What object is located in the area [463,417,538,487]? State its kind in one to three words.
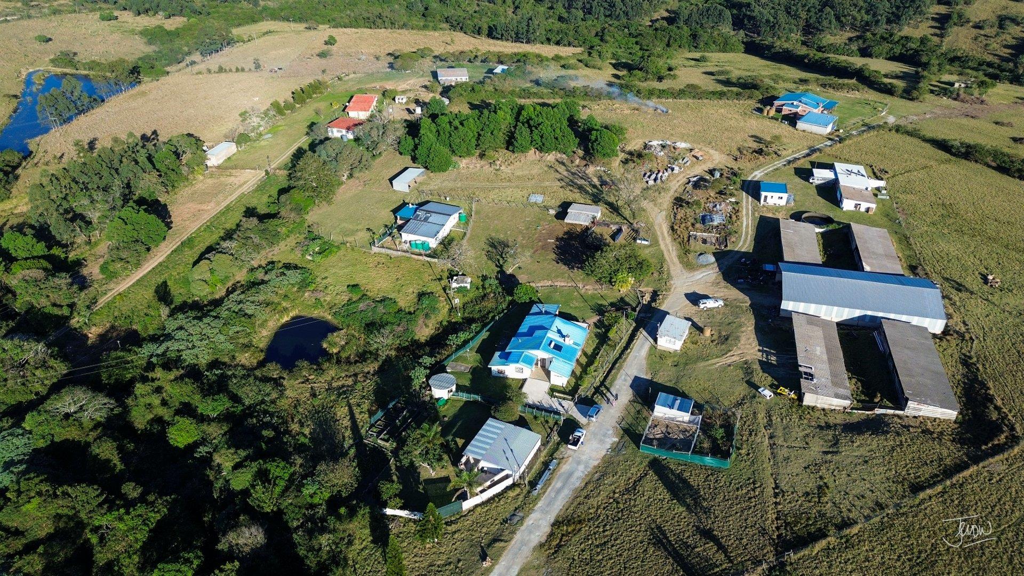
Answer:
house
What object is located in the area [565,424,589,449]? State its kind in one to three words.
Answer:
truck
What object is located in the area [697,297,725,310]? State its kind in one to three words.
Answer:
vehicle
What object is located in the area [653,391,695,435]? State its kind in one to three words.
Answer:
shed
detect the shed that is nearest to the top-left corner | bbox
[205,141,237,169]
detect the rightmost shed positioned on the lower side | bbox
[881,320,958,421]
